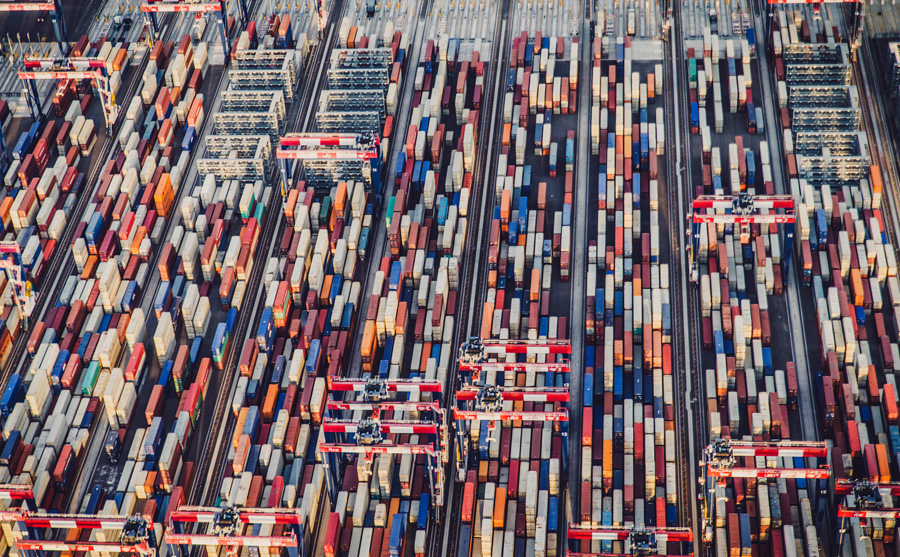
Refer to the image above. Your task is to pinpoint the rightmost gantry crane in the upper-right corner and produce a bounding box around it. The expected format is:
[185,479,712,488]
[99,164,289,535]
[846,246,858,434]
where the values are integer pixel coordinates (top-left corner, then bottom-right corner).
[765,0,857,57]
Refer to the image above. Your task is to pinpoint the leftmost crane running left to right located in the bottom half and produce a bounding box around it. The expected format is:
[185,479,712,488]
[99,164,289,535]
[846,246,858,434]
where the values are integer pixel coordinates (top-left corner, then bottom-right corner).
[26,509,163,557]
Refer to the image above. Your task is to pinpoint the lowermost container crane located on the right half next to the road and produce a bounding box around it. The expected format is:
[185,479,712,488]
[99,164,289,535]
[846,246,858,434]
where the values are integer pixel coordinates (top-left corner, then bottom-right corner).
[569,521,694,557]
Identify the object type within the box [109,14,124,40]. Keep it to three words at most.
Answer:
vehicle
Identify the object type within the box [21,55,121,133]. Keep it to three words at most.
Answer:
container crane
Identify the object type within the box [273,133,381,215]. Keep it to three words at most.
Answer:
container crane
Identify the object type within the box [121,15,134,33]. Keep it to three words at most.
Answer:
vehicle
